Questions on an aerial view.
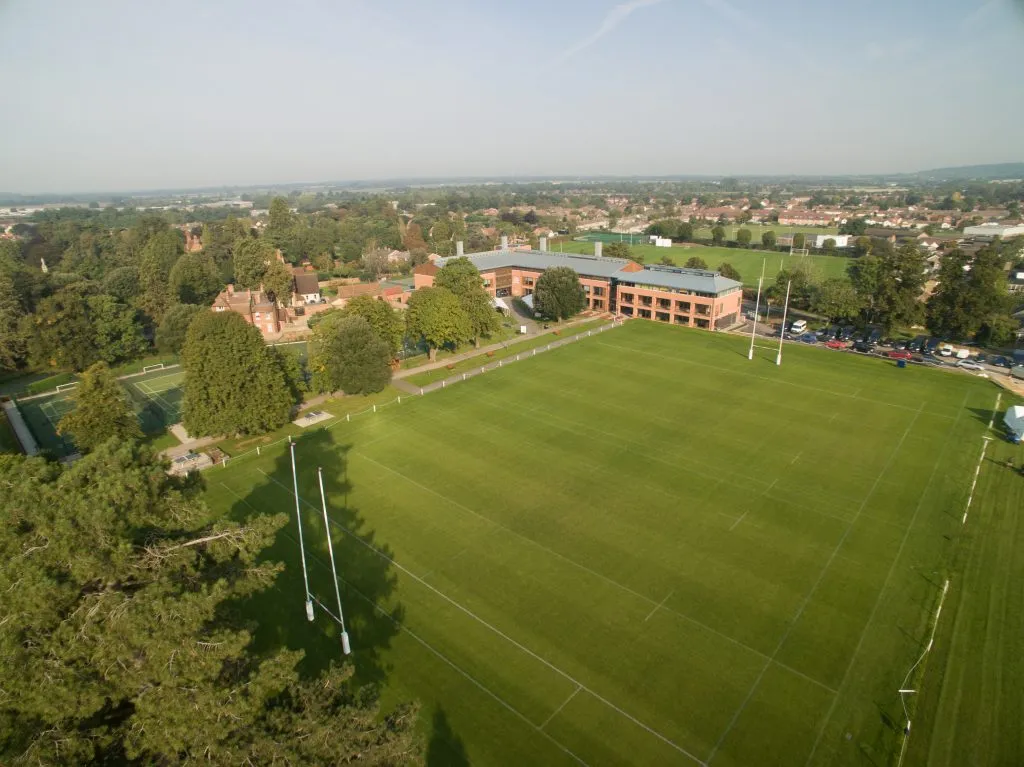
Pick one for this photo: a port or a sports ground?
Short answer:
sports ground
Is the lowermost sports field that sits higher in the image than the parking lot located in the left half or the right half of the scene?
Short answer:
right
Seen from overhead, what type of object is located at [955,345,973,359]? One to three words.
vehicle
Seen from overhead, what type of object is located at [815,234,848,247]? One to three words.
building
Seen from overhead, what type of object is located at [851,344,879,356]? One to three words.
vehicle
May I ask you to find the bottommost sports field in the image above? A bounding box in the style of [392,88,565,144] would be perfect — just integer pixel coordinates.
[183,319,998,767]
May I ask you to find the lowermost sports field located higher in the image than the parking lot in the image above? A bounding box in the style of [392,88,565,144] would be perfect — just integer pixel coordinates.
[561,241,866,301]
